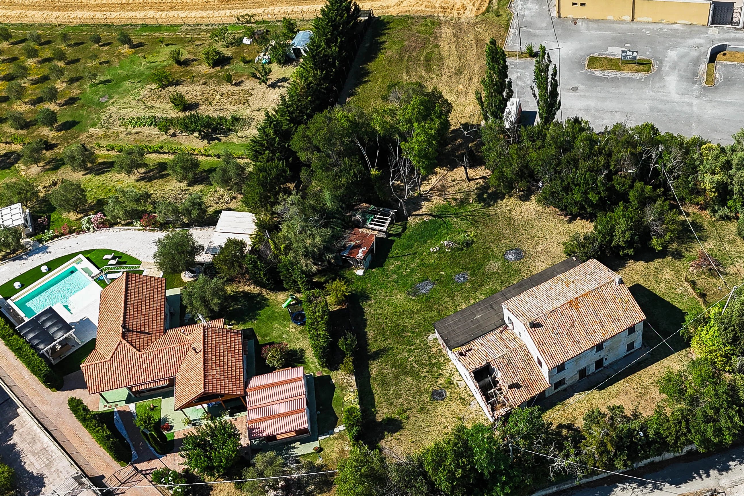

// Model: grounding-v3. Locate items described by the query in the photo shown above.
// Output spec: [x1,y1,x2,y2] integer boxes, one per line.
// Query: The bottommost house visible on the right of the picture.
[434,256,646,430]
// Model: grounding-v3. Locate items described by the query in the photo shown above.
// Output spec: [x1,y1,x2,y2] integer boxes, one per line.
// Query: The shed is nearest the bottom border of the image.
[247,366,312,445]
